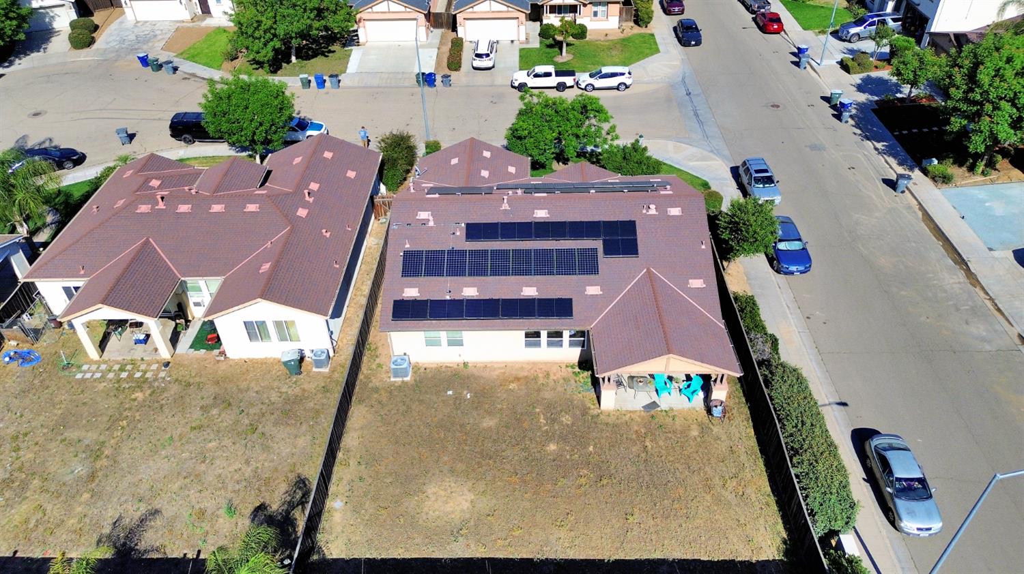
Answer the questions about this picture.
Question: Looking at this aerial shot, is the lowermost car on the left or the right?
right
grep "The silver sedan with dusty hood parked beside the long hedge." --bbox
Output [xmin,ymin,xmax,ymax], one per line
[863,430,945,535]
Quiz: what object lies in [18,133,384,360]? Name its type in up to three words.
house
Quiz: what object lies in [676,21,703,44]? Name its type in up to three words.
car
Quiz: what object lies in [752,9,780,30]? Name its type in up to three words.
car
